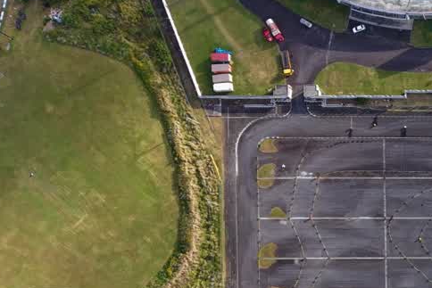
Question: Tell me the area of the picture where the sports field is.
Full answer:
Look in the left portion of the view to spot the sports field.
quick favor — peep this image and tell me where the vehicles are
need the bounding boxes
[353,25,365,32]
[213,75,233,84]
[267,20,286,45]
[214,48,231,55]
[212,65,232,74]
[281,52,292,77]
[213,83,234,93]
[300,18,311,28]
[261,28,272,41]
[212,54,231,63]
